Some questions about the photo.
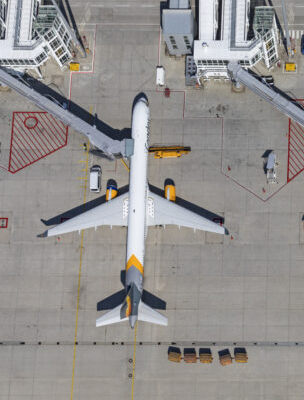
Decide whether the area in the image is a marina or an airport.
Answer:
airport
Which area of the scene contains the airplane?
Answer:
center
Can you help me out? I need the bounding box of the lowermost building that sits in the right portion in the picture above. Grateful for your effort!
[194,35,269,95]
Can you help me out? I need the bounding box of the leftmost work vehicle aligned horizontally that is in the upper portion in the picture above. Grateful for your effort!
[149,146,191,162]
